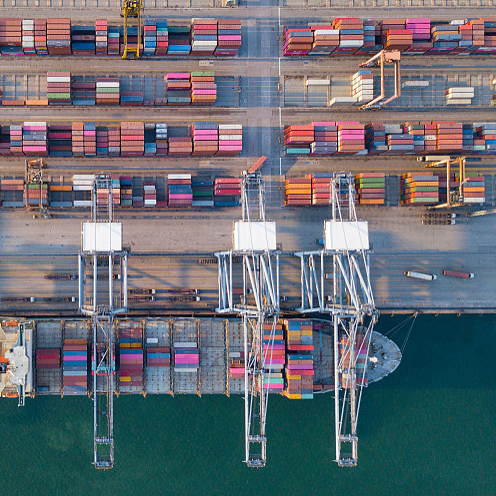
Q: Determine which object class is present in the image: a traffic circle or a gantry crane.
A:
gantry crane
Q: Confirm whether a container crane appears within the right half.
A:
Yes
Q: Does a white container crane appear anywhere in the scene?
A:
Yes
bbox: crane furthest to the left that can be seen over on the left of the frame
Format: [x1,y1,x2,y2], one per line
[23,155,50,212]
